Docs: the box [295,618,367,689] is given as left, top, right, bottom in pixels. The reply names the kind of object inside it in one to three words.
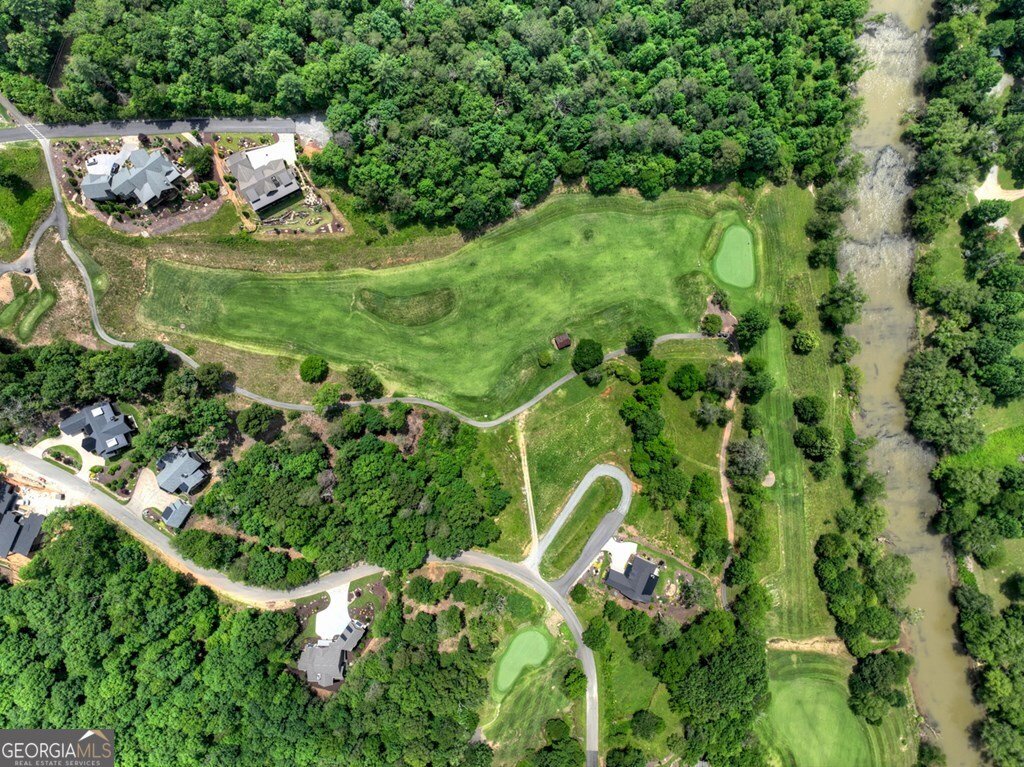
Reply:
house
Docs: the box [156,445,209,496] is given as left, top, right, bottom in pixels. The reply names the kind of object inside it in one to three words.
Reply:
house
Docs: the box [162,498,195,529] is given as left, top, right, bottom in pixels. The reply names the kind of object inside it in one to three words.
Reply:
building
